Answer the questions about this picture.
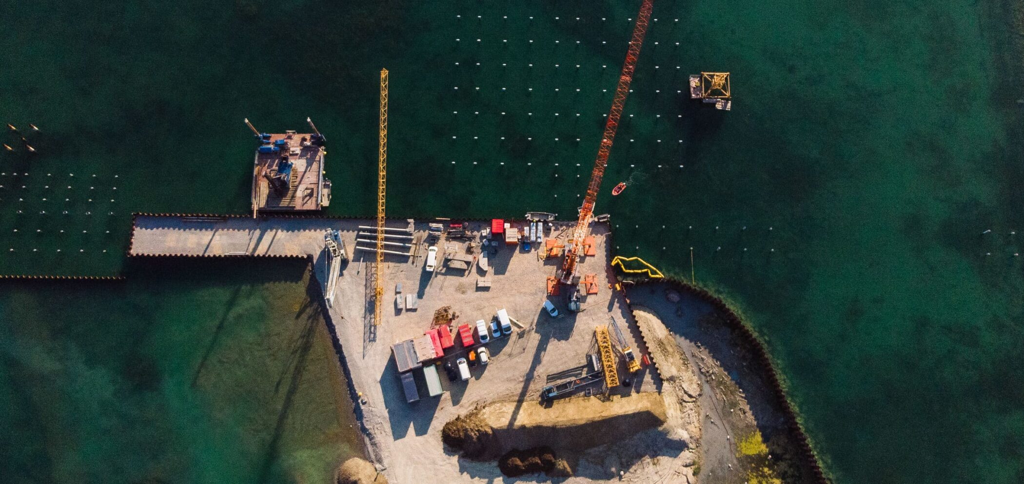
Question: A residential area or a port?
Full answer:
It's a port.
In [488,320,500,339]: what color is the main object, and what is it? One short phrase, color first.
blue vehicle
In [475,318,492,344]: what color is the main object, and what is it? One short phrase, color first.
white vehicle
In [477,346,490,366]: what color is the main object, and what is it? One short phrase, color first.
white vehicle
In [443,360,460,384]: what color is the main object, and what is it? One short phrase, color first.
black vehicle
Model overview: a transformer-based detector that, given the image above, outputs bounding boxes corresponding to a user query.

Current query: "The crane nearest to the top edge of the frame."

[550,0,657,312]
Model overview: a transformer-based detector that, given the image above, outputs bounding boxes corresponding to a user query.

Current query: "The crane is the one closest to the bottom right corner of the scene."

[605,316,641,373]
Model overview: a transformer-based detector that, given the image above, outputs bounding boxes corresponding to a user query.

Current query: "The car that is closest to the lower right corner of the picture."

[542,299,559,318]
